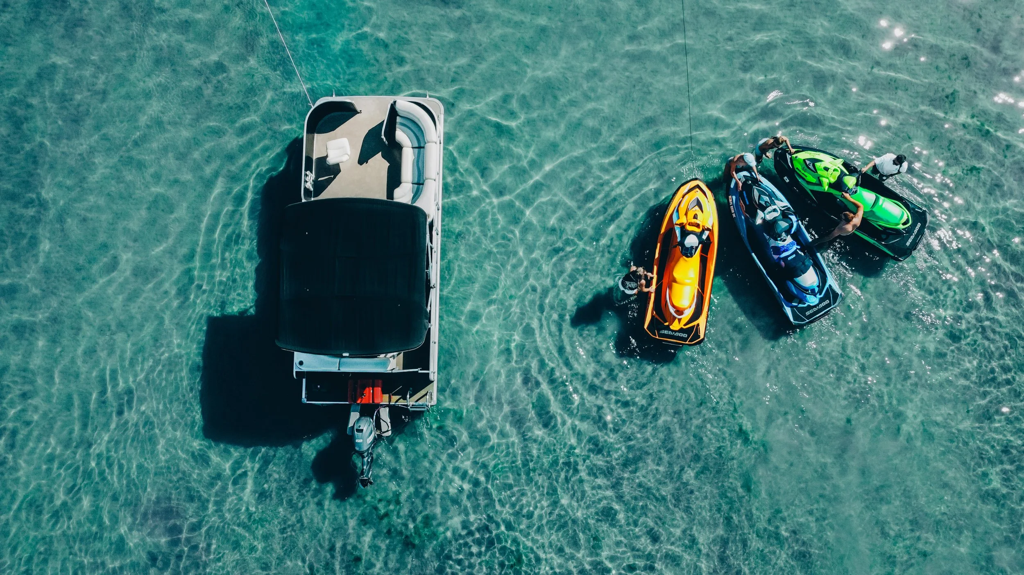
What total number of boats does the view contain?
4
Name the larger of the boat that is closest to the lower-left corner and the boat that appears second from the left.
the boat that is closest to the lower-left corner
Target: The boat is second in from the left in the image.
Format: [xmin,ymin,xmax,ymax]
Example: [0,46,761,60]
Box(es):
[643,178,718,347]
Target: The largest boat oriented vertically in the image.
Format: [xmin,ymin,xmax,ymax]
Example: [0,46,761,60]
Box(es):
[276,89,445,487]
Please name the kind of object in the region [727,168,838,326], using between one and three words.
boat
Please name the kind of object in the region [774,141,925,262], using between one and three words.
boat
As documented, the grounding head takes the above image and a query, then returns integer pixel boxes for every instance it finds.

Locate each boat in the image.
[727,168,838,326]
[276,89,445,487]
[774,141,925,262]
[643,178,718,347]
